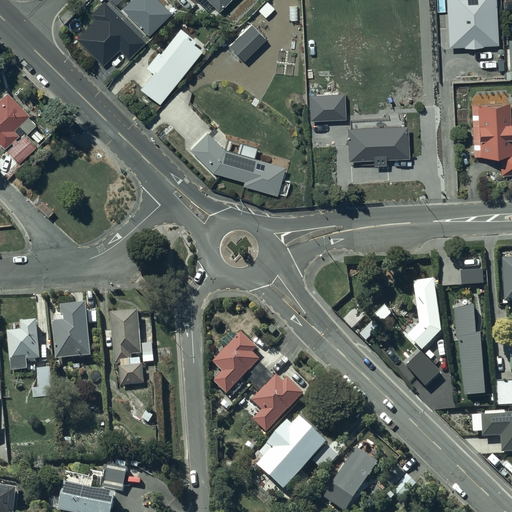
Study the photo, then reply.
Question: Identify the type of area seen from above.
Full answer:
What you see here is a residential area.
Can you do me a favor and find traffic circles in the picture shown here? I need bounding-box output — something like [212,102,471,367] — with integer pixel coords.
[220,230,259,268]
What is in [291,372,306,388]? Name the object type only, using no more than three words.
car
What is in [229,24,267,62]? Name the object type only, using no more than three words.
shed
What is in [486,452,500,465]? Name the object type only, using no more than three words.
vehicle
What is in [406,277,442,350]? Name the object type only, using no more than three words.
house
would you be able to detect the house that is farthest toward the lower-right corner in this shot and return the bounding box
[482,412,512,470]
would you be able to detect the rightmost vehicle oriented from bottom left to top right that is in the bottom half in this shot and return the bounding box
[402,458,416,473]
